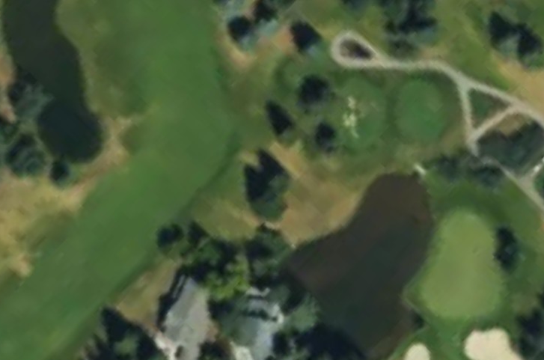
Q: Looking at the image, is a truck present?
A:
No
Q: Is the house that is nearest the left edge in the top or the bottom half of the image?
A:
bottom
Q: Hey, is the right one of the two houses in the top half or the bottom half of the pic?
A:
bottom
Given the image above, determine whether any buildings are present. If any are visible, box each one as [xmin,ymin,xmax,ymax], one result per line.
[158,272,211,352]
[230,292,282,360]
